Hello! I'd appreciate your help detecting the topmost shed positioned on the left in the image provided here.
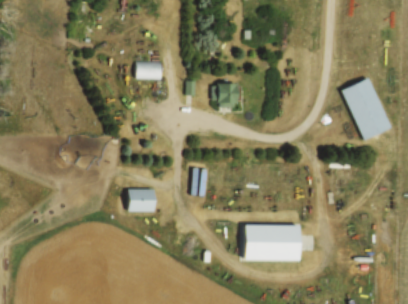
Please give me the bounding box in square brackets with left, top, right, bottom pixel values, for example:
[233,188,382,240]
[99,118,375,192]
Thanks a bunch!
[133,61,163,80]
